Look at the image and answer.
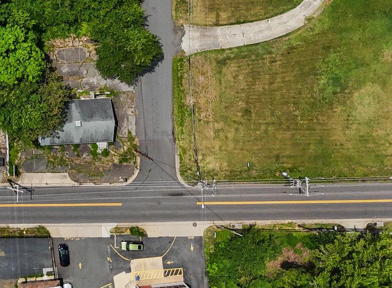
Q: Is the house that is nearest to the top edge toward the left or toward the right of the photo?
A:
left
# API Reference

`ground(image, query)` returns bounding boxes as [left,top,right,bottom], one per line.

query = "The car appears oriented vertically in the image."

[58,244,71,268]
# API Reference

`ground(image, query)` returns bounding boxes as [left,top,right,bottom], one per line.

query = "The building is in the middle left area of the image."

[39,97,115,152]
